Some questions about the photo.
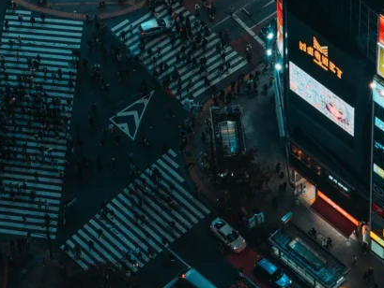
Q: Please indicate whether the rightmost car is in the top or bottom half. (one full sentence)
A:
It is in the bottom half that the rightmost car appears.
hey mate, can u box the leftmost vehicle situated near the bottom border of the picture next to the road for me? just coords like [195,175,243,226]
[183,272,211,288]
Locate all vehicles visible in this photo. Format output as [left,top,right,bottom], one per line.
[135,14,171,36]
[212,218,244,250]
[183,272,211,288]
[256,256,290,288]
